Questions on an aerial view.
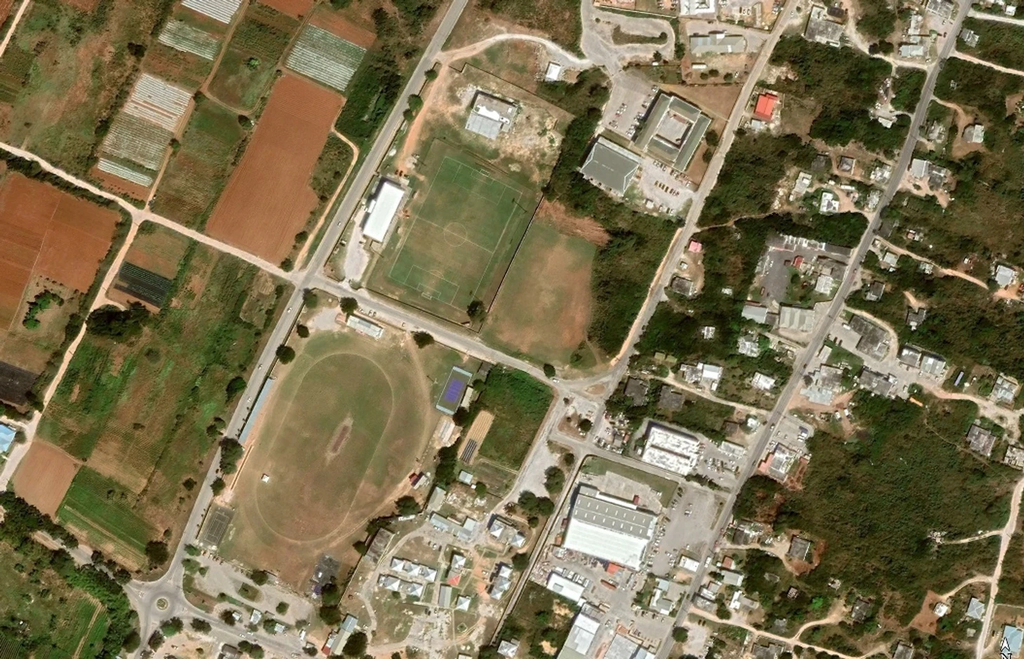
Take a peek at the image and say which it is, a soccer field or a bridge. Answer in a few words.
soccer field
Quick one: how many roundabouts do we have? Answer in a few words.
1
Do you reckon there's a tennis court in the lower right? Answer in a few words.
No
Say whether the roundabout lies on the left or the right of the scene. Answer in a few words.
left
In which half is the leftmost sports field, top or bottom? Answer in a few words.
bottom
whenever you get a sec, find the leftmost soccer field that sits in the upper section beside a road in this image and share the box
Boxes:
[389,155,527,312]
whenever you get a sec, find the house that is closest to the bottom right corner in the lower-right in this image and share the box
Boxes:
[1001,626,1023,652]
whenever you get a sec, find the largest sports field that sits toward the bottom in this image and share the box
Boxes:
[228,328,431,571]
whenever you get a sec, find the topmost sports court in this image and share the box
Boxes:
[436,366,473,415]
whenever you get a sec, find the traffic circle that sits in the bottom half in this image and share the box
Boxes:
[123,559,205,647]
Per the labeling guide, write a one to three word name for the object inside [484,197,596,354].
sports field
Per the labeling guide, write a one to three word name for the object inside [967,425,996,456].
house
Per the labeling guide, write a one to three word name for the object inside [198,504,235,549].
tennis court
